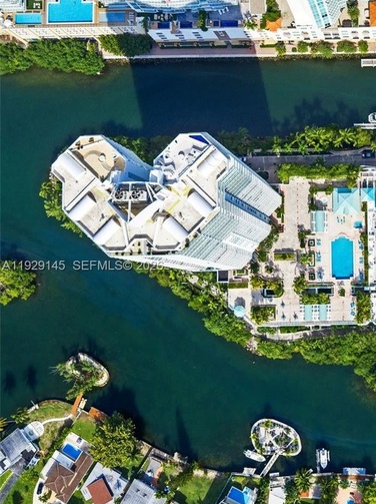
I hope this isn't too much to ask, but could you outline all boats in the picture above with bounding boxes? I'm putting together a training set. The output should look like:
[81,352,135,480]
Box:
[241,447,267,460]
[367,112,376,122]
[79,396,89,410]
[320,446,328,469]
